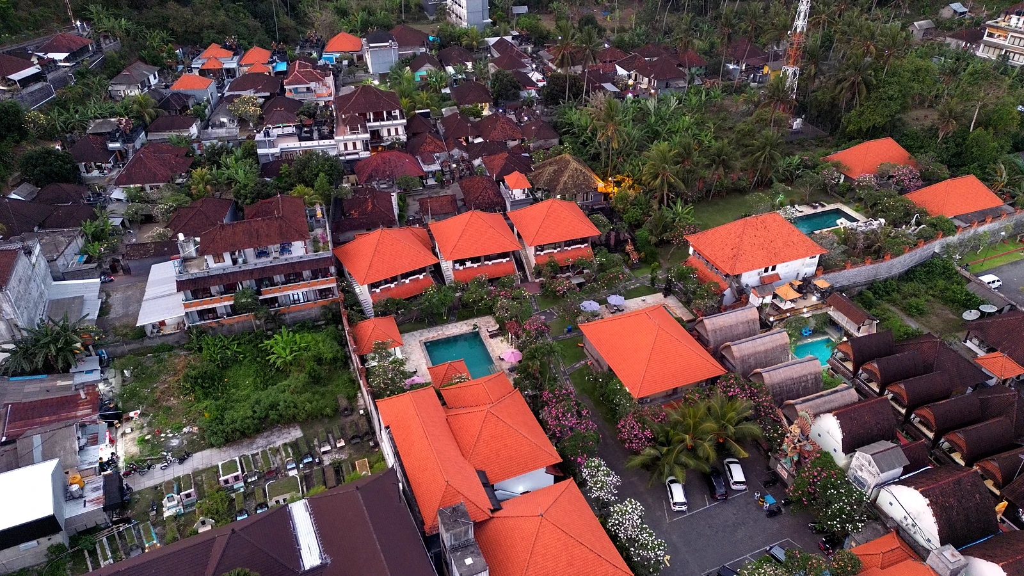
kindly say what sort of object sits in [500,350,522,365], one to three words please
umbrella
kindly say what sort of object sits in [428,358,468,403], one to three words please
building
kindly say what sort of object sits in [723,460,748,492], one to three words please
car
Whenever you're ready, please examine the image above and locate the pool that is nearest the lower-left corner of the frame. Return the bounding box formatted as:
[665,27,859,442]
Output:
[400,314,526,406]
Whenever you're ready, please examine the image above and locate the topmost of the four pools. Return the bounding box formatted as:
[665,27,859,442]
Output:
[789,203,868,237]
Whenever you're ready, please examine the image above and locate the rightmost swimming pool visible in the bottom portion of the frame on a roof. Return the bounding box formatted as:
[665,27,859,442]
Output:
[789,330,845,368]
